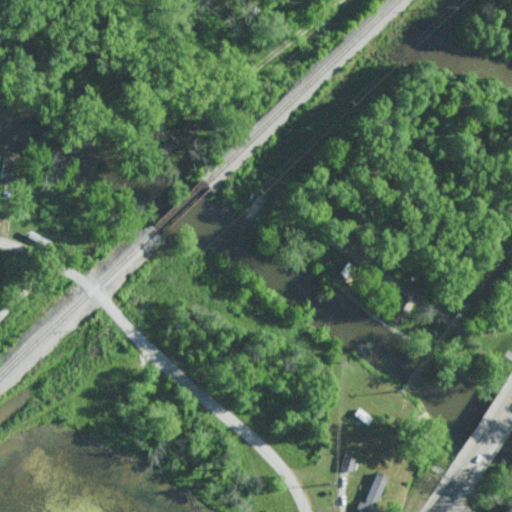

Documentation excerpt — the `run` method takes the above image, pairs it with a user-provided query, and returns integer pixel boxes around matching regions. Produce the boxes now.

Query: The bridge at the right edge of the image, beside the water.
[423,374,512,512]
